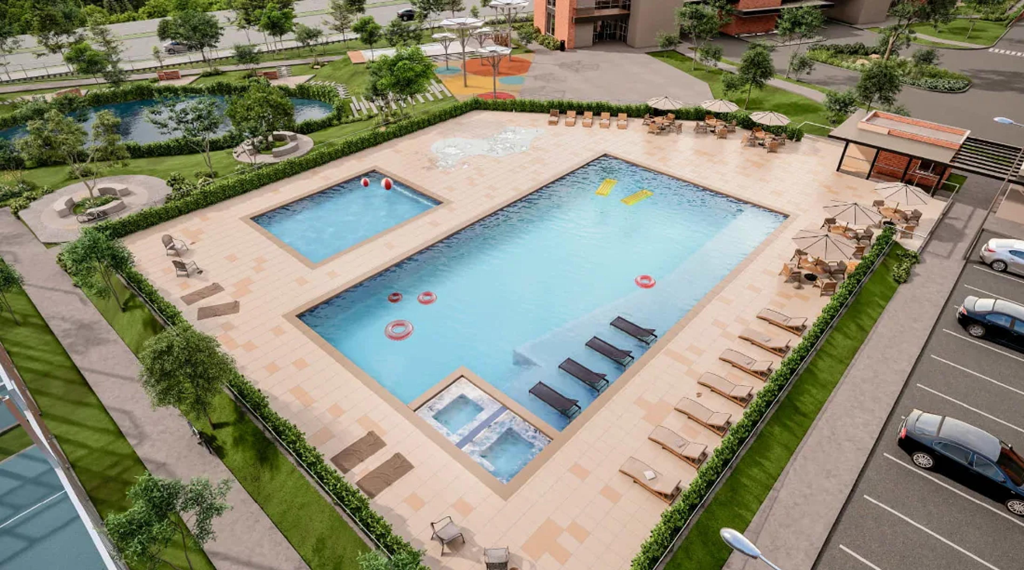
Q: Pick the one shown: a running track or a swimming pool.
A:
swimming pool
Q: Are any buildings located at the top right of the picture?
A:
Yes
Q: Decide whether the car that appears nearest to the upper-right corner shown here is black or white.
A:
white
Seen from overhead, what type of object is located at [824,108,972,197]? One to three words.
building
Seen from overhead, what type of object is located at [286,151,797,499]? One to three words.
swimming pool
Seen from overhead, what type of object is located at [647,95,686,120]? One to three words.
umbrella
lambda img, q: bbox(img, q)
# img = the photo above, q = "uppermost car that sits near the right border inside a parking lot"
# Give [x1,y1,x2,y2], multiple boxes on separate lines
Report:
[979,238,1024,273]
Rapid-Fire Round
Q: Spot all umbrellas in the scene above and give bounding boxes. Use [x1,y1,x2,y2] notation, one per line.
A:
[699,97,737,122]
[647,95,686,120]
[874,182,934,224]
[793,227,859,265]
[748,109,789,135]
[834,197,895,240]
